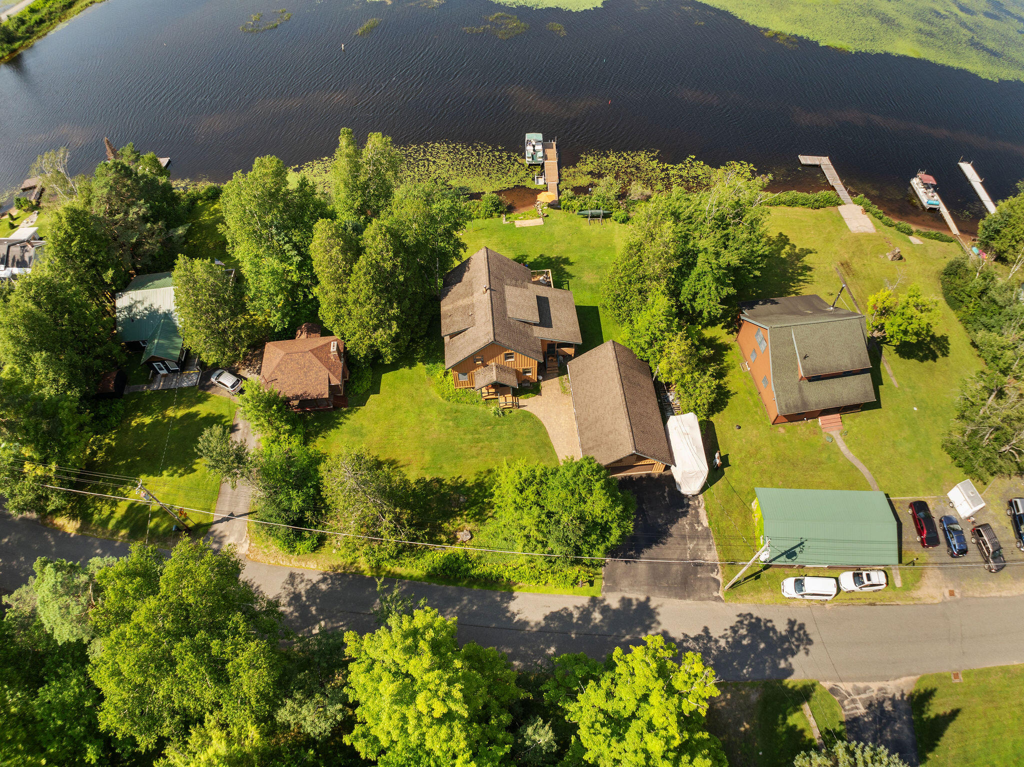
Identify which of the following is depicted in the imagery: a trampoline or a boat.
boat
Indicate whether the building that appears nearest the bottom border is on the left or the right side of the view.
right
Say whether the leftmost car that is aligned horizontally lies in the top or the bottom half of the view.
bottom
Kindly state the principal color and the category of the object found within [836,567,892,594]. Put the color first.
white car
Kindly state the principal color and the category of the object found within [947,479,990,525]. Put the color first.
white trailer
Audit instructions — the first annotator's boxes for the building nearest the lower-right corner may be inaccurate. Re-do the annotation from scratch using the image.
[751,488,901,570]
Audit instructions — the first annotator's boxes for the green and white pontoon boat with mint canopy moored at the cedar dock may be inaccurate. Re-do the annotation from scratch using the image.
[525,132,543,168]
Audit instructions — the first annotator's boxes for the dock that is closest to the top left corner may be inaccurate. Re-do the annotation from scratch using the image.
[20,175,44,202]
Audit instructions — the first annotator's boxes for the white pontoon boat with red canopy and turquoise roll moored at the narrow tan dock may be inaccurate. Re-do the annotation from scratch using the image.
[908,173,943,211]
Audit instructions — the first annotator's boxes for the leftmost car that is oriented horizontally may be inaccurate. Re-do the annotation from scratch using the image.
[779,573,841,602]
